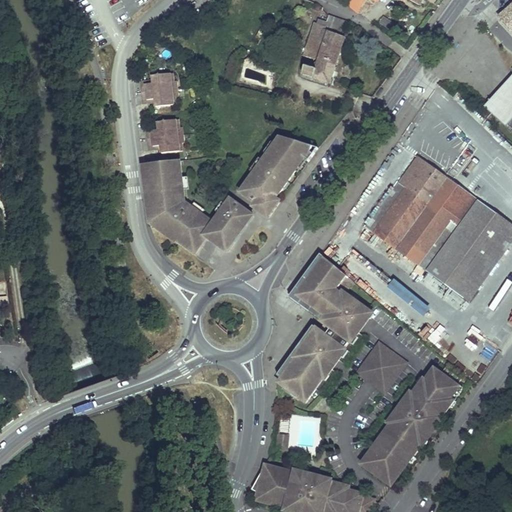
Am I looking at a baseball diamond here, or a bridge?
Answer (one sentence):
The one in the frame is a bridge.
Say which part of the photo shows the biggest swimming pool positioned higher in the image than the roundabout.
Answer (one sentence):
The biggest swimming pool positioned higher in the image than the roundabout appears toward the top of the photo.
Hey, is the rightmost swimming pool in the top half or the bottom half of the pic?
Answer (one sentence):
The bottom half of the photo is where the rightmost swimming pool is.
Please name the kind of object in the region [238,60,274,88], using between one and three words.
swimming pool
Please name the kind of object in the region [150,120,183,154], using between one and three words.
house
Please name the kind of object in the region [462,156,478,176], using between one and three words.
vehicle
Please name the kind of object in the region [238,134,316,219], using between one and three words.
building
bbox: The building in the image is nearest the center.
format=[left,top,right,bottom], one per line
[202,192,254,250]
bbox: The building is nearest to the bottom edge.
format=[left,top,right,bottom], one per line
[251,462,376,512]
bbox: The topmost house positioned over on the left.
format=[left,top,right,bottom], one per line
[142,72,177,107]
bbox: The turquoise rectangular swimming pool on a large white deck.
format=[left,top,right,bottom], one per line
[288,415,321,450]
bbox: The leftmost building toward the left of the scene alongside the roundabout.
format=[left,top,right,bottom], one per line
[139,160,210,254]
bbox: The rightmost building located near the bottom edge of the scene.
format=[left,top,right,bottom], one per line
[360,365,464,486]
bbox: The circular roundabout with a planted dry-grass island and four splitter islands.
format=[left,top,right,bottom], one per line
[171,264,272,380]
